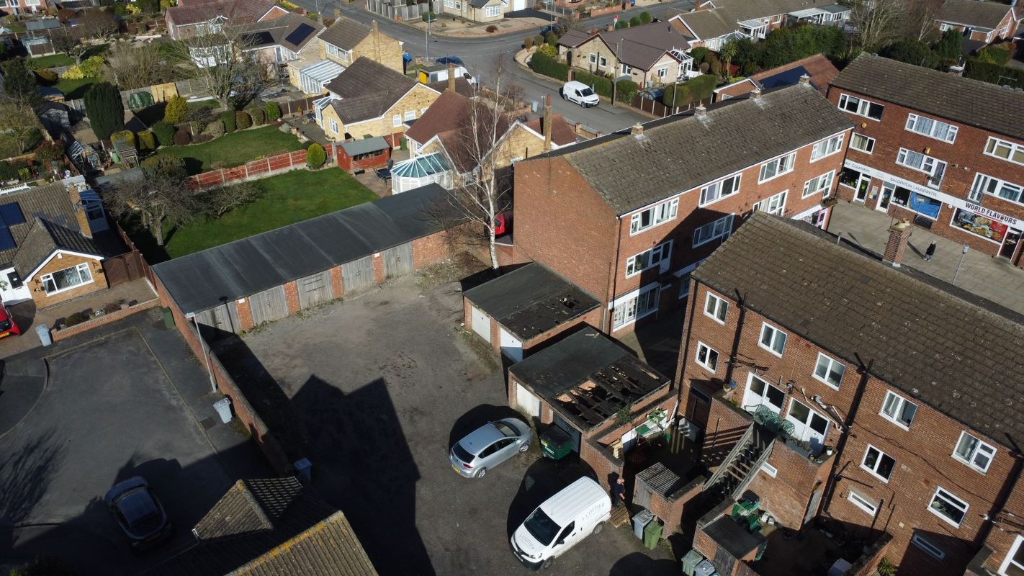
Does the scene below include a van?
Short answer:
Yes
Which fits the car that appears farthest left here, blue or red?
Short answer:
red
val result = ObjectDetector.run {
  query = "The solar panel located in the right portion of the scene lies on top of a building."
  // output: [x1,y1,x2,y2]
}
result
[763,65,828,91]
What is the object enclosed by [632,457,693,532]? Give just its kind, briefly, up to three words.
building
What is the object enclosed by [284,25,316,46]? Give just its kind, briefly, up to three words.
solar panel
